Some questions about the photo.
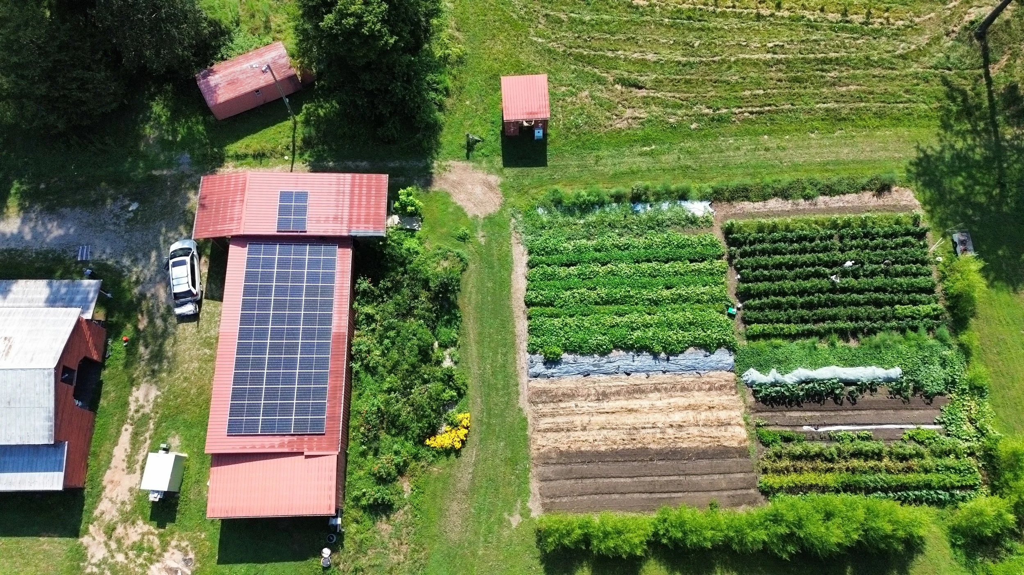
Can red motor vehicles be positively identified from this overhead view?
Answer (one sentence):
No, I can't see a single red motor vehicle in this photo.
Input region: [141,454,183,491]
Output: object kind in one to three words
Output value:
building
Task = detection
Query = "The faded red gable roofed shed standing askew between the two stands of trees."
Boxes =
[191,35,301,119]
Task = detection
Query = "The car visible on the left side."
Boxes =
[158,240,204,307]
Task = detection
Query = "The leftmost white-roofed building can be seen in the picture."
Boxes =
[0,282,118,491]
